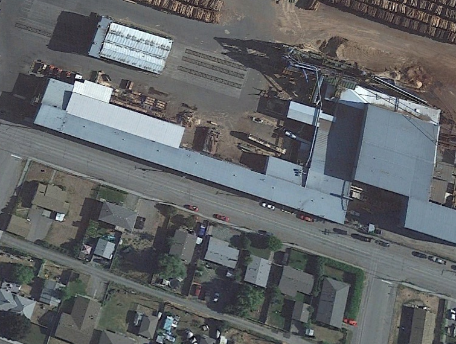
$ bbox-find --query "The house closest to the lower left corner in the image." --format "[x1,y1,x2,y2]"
[0,287,36,317]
